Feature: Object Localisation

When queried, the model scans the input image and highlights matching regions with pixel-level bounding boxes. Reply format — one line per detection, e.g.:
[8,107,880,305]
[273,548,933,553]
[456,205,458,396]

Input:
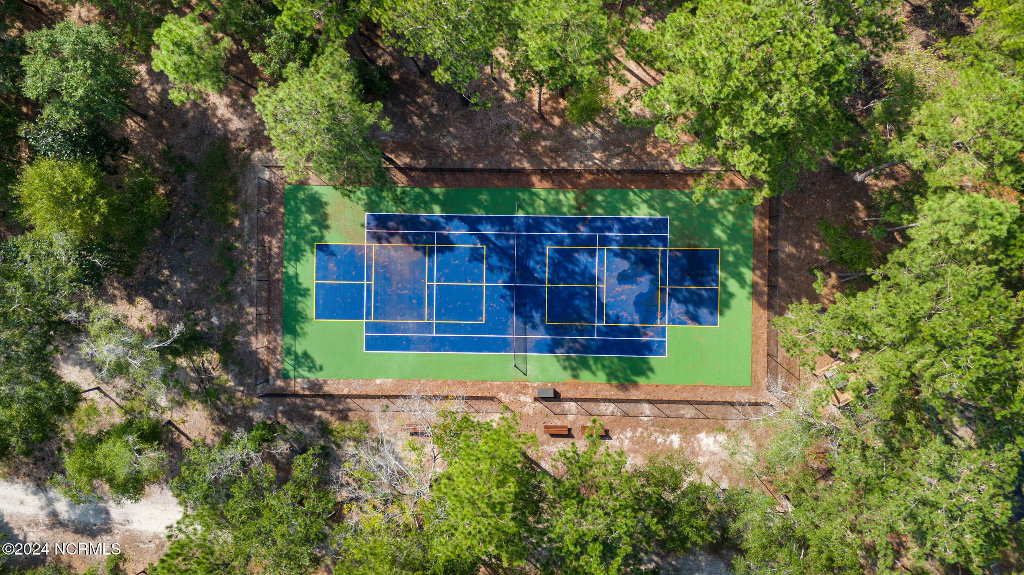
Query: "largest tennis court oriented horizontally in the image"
[284,185,756,387]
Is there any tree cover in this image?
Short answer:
Yes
